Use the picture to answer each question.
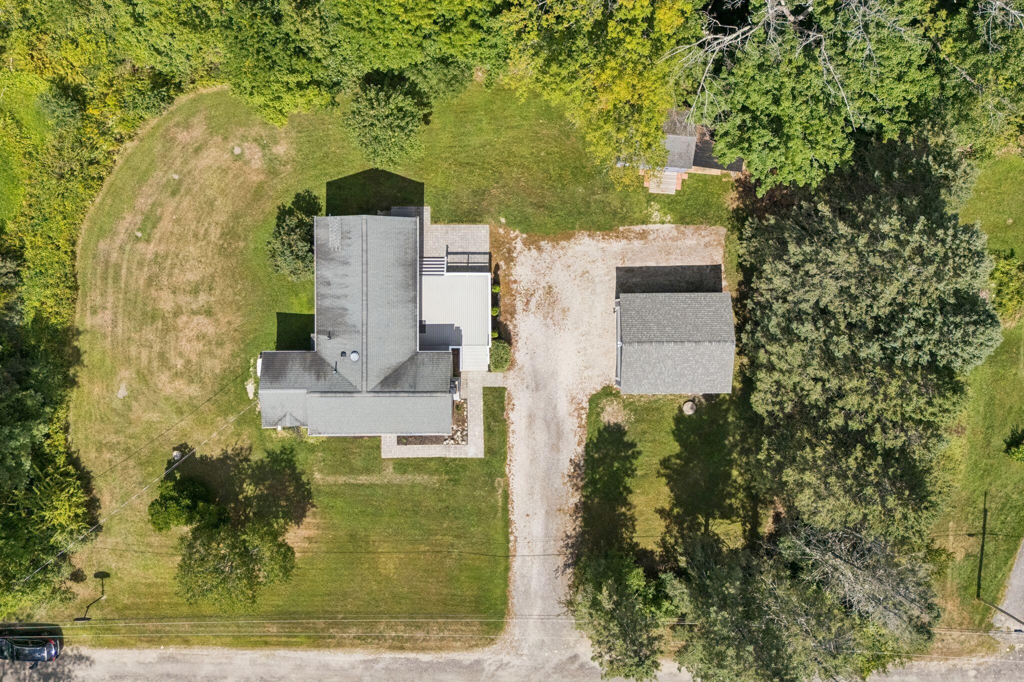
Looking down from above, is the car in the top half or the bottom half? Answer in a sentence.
It is in the bottom half that the car appears.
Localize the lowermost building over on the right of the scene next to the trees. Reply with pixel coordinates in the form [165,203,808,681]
[615,293,736,394]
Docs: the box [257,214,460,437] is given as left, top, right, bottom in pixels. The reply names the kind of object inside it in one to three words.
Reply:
house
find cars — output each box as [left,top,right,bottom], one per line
[0,631,58,666]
